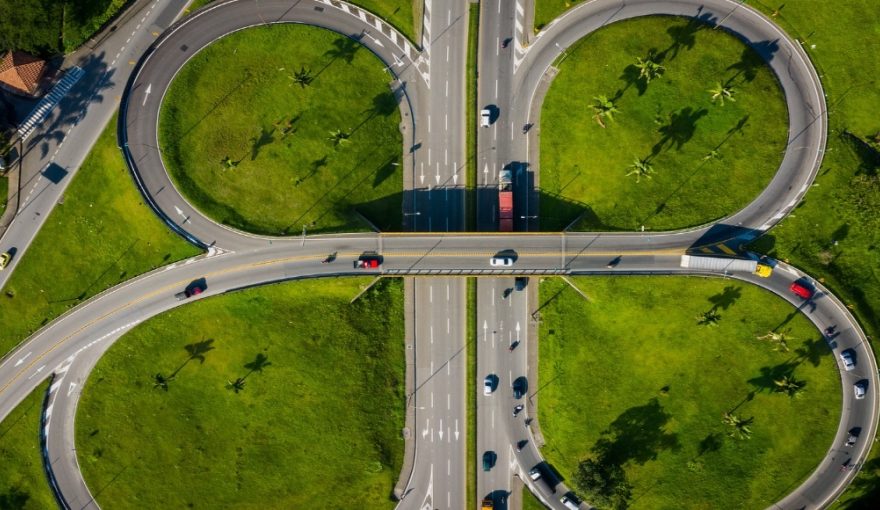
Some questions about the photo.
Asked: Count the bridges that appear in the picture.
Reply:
one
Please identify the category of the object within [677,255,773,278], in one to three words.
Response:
truck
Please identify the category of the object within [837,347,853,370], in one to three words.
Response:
car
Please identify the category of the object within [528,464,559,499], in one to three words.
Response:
truck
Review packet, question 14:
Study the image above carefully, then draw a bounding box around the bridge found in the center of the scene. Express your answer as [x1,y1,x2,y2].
[349,206,594,304]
